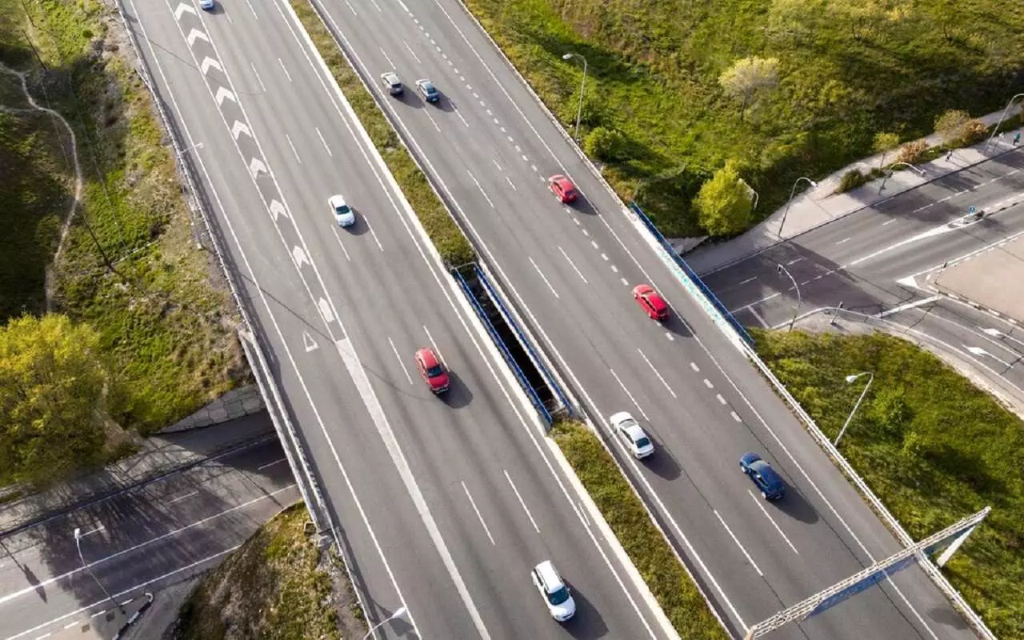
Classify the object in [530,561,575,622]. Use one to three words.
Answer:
car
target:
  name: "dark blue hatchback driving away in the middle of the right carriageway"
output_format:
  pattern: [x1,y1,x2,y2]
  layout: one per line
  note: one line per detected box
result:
[739,454,787,504]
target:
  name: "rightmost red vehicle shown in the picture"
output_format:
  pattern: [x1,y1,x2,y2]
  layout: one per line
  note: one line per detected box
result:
[633,287,670,322]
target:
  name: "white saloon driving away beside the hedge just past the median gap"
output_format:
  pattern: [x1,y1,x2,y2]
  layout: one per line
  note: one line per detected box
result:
[610,414,654,463]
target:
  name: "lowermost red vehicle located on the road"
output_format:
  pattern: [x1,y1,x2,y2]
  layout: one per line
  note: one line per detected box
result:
[415,348,450,392]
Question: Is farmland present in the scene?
No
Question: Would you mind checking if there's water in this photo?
No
